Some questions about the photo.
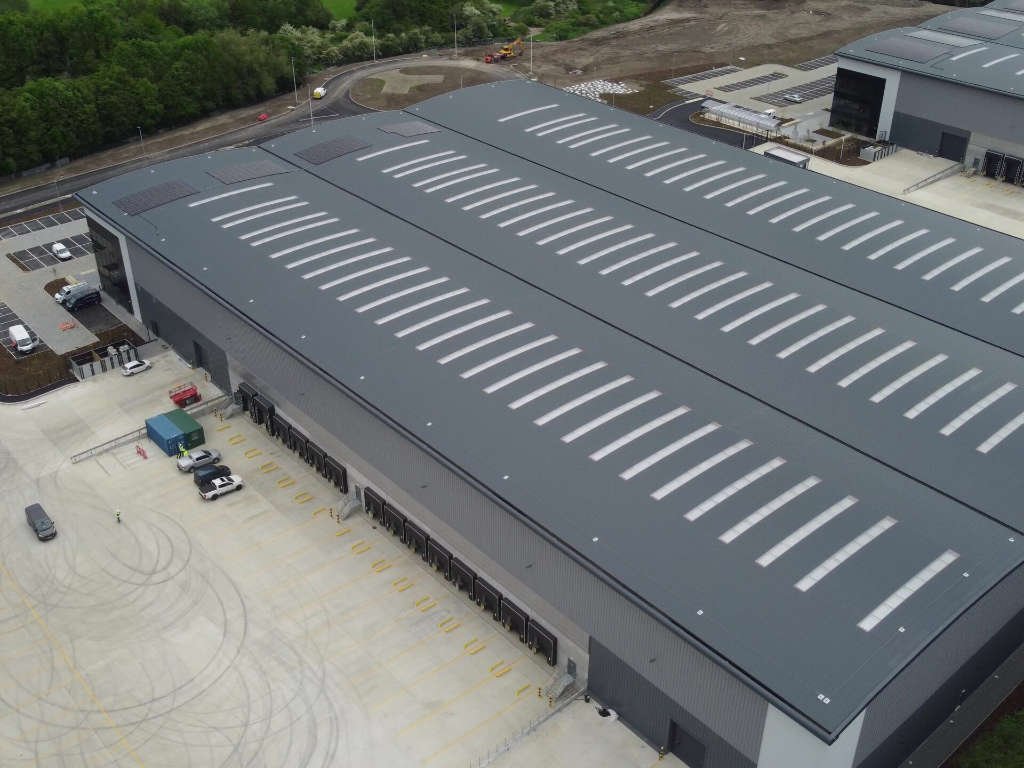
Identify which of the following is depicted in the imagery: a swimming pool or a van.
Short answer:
van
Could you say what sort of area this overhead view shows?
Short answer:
industrial area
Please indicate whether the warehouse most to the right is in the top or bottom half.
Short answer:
top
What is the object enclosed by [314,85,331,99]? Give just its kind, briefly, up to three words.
vehicle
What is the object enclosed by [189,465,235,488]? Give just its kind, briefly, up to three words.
truck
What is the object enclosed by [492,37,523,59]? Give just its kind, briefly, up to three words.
work vehicle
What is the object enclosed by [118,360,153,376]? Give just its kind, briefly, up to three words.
car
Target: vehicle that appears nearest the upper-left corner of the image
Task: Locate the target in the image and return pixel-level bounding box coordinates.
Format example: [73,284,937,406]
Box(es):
[51,239,72,257]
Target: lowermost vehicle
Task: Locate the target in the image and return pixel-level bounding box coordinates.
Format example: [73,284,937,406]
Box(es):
[25,503,56,542]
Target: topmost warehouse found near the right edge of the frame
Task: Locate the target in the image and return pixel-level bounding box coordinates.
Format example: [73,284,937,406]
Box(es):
[827,0,1024,187]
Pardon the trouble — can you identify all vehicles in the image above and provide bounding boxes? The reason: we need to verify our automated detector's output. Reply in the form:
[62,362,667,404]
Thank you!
[766,107,777,120]
[492,37,523,59]
[189,465,235,488]
[53,276,93,301]
[25,503,56,542]
[198,477,245,501]
[9,324,41,354]
[63,284,101,307]
[314,85,331,99]
[118,360,153,376]
[51,239,72,257]
[175,449,221,471]
[783,92,803,102]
